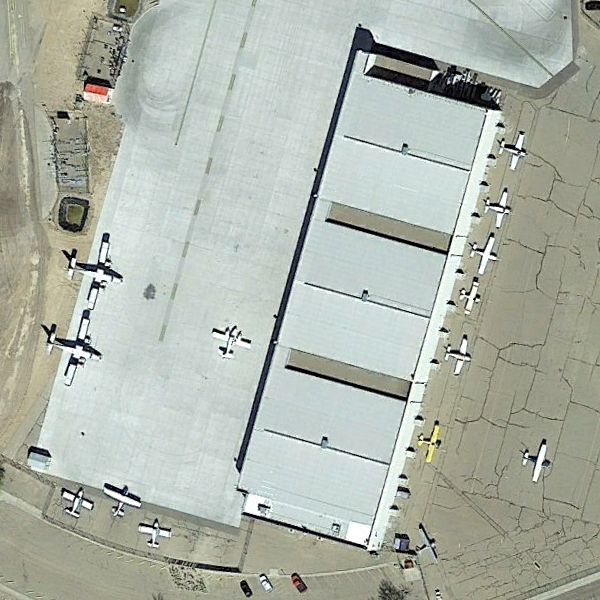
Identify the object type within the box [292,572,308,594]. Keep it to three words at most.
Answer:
vehicle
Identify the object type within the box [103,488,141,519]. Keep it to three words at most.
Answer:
airplane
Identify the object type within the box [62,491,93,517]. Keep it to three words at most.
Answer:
airplane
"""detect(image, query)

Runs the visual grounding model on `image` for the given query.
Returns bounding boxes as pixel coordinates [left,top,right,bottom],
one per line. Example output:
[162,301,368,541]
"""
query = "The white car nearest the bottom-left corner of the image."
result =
[260,574,273,593]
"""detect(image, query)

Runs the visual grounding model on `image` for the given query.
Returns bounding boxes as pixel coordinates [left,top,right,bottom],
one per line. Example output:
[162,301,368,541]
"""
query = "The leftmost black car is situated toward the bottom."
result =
[240,579,253,598]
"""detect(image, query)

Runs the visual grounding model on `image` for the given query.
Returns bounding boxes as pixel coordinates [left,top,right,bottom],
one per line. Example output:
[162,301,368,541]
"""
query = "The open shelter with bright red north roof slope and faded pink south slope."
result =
[85,81,112,102]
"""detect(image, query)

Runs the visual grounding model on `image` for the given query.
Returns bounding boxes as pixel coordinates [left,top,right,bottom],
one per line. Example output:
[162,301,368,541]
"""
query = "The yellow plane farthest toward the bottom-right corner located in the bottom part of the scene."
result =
[415,425,442,462]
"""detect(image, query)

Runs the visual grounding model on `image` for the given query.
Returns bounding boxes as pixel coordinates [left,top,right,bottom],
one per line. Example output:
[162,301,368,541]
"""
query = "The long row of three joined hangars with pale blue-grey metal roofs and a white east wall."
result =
[234,49,501,550]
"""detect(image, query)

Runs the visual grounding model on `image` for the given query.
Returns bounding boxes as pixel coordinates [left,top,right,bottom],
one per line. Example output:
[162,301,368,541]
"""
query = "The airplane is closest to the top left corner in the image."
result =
[62,241,121,311]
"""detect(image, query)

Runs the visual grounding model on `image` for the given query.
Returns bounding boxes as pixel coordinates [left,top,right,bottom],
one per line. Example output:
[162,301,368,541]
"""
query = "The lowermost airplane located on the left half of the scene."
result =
[138,523,171,548]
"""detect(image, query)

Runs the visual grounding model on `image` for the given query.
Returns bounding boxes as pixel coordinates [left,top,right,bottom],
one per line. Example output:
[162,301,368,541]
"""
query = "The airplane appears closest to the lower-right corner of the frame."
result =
[521,445,553,482]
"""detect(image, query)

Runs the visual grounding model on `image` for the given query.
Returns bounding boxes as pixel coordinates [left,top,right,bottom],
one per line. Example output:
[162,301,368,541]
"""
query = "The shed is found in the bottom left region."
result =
[29,451,52,472]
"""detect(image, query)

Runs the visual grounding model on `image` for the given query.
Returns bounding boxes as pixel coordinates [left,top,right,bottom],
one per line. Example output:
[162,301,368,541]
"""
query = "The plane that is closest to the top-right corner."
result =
[497,134,529,170]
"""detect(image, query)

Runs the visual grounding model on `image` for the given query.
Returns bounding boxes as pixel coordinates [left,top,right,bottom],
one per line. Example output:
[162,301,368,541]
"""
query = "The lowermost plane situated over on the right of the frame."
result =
[414,526,438,564]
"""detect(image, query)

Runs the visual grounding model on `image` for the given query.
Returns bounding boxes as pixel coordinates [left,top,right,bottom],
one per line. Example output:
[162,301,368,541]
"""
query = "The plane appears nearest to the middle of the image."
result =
[212,326,250,360]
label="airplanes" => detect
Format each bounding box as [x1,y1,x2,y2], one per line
[212,326,250,360]
[103,488,141,519]
[497,134,529,170]
[138,523,171,548]
[62,241,121,311]
[62,491,93,517]
[415,425,442,462]
[442,339,473,375]
[39,319,101,386]
[521,445,553,482]
[414,526,438,564]
[468,237,499,274]
[458,282,482,315]
[483,192,513,227]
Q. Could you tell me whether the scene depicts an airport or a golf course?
airport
